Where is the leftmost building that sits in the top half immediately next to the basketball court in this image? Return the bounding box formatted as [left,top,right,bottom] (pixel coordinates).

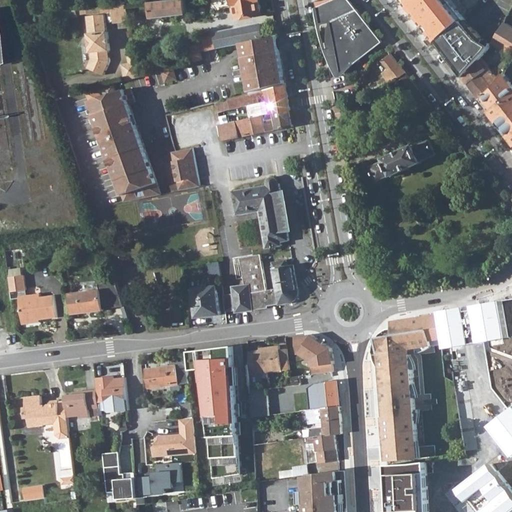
[84,88,162,206]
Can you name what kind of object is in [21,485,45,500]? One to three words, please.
shed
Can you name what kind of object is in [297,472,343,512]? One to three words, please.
building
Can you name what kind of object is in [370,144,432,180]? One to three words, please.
house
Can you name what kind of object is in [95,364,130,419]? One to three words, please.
house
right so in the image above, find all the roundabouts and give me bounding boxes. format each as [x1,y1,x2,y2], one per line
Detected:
[320,281,380,343]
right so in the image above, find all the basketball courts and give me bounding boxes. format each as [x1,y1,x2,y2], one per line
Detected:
[138,190,206,232]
